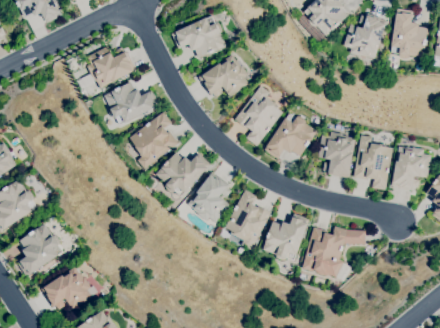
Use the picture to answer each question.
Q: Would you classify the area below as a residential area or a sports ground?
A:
residential area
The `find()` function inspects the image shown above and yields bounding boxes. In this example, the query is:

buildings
[346,13,388,64]
[87,46,136,86]
[18,228,60,279]
[104,84,158,126]
[263,216,309,263]
[188,172,232,226]
[300,0,355,36]
[154,144,212,200]
[42,268,98,310]
[0,182,35,234]
[391,147,434,196]
[234,85,282,144]
[198,55,249,98]
[318,132,358,177]
[303,226,366,276]
[129,113,179,170]
[16,0,62,23]
[226,191,268,248]
[0,146,16,175]
[353,134,394,190]
[266,114,316,160]
[392,10,428,58]
[428,174,440,219]
[176,16,226,58]
[78,314,114,328]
